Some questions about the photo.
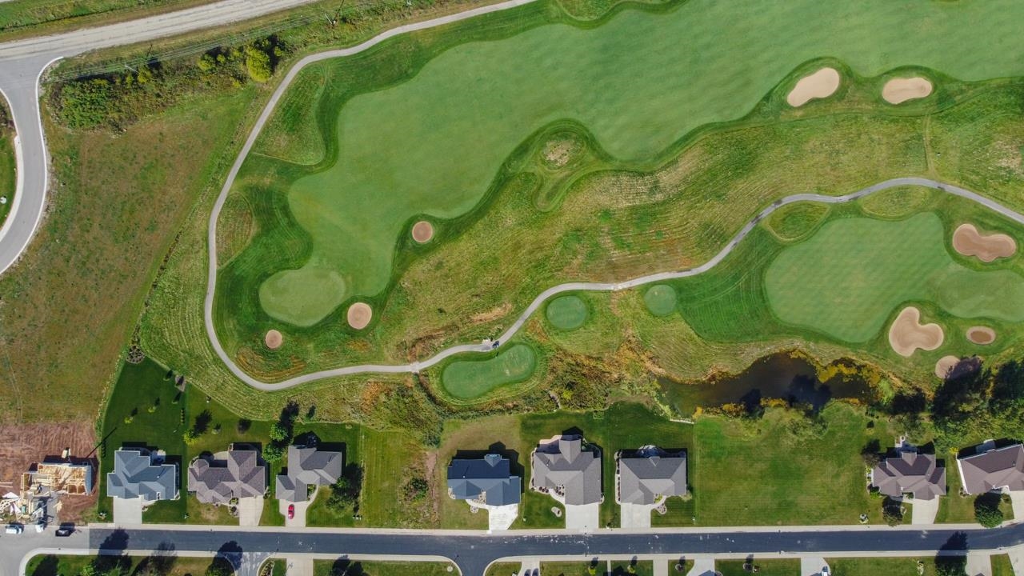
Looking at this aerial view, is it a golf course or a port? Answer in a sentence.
It's a golf course.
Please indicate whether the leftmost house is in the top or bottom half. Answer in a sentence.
The leftmost house is in the bottom half of the image.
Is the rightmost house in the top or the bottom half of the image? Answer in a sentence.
You can find the rightmost house in the bottom half.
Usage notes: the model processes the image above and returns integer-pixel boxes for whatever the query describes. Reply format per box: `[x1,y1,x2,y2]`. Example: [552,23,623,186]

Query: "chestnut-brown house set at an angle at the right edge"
[954,445,1024,498]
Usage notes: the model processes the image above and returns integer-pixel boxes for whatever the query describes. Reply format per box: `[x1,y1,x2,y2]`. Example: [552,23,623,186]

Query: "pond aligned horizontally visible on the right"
[655,353,879,417]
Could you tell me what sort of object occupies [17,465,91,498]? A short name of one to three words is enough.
house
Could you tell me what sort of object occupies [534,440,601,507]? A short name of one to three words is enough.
house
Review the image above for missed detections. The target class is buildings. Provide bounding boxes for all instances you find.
[107,450,178,501]
[447,454,522,509]
[870,452,946,500]
[17,465,91,498]
[954,445,1024,498]
[620,456,686,505]
[276,446,343,502]
[188,450,266,503]
[534,440,601,507]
